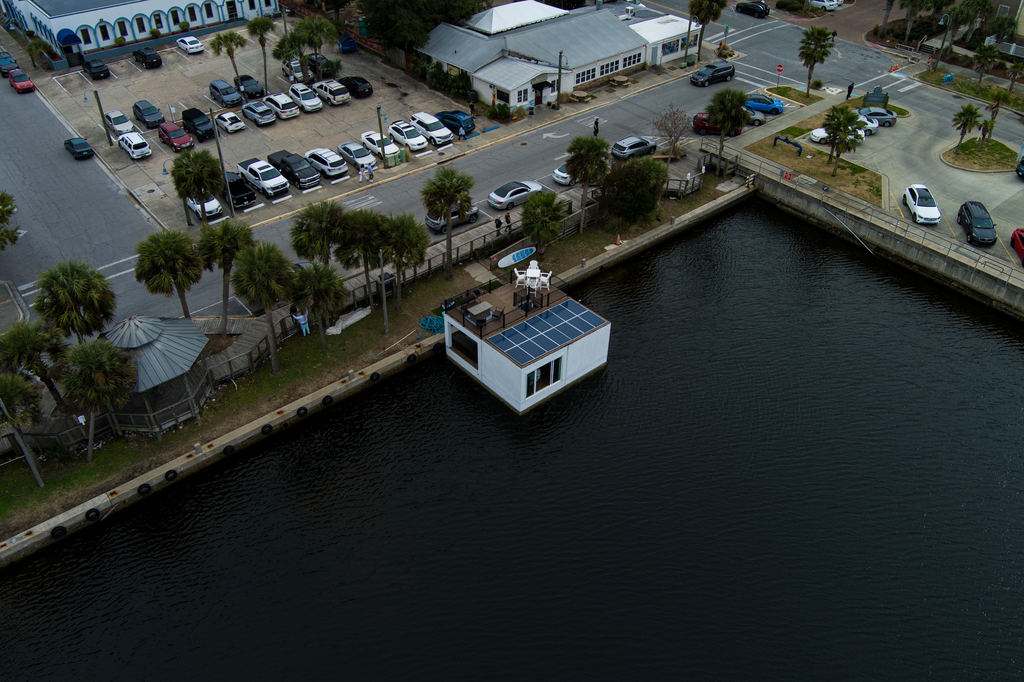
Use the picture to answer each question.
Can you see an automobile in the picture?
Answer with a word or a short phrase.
Yes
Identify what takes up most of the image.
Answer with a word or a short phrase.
water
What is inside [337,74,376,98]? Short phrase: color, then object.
black car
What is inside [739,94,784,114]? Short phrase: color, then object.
blue car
